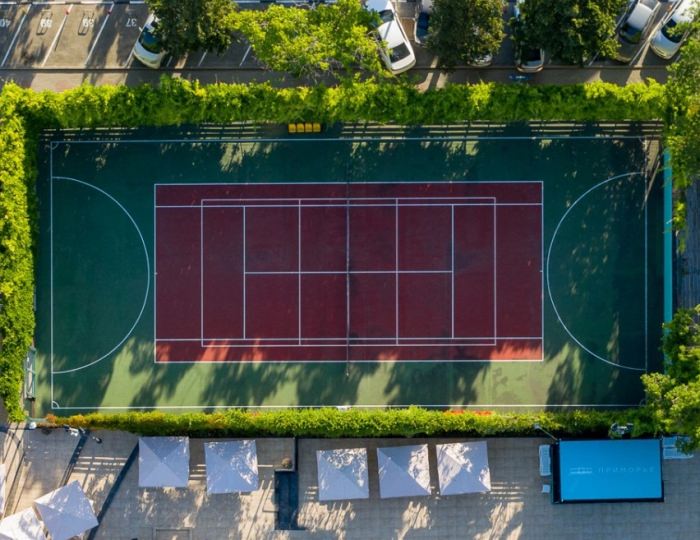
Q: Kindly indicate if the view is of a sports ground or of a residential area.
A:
sports ground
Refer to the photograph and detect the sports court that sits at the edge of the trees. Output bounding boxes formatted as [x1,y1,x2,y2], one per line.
[27,123,662,413]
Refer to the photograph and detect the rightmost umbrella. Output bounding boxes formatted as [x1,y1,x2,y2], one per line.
[436,440,490,494]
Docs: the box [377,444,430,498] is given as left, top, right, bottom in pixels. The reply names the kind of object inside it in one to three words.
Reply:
umbrella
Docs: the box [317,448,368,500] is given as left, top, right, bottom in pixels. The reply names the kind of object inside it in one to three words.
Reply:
umbrella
